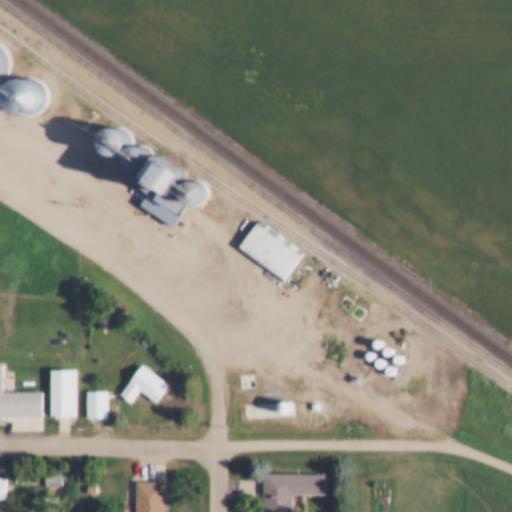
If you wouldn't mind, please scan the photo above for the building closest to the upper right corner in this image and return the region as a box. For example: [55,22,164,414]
[240,220,306,282]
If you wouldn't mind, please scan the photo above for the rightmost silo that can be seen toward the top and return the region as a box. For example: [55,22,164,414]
[180,179,211,207]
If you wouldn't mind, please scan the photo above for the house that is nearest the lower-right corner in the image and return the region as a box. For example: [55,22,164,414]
[263,474,328,512]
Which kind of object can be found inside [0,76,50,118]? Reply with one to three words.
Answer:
silo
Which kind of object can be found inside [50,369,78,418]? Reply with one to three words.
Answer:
building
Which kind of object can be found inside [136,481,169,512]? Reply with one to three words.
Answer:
house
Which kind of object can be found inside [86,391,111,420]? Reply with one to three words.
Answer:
building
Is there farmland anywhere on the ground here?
Yes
